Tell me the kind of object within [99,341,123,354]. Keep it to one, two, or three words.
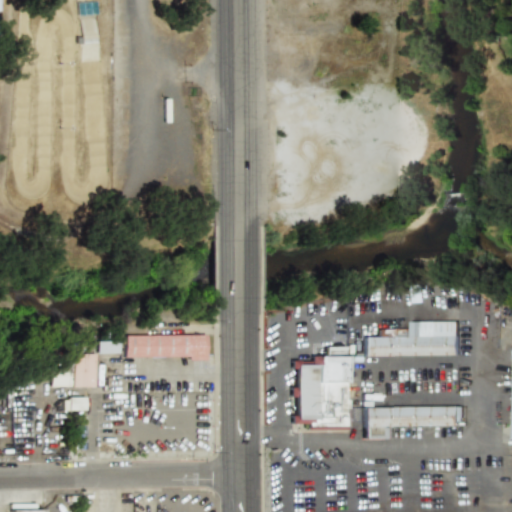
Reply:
shed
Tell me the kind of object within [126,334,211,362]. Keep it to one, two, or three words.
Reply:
building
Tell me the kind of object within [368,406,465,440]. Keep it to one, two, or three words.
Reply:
building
